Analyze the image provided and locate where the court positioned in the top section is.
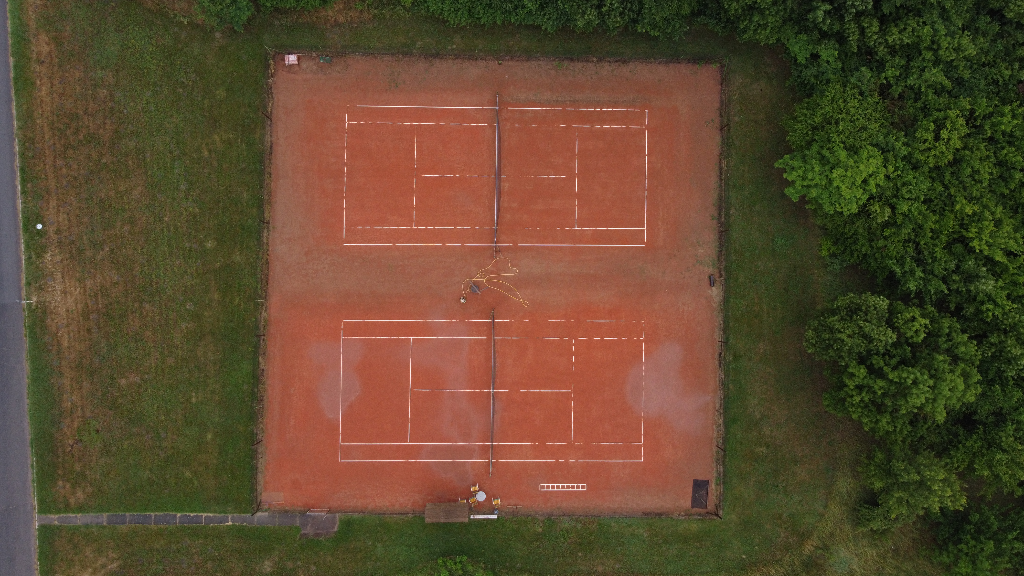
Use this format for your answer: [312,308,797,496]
[267,56,722,287]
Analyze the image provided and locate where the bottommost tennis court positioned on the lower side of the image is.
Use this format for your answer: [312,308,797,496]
[261,281,719,512]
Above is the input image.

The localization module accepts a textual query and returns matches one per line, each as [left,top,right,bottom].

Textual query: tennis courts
[261,281,719,512]
[267,56,722,287]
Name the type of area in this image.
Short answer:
sports ground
